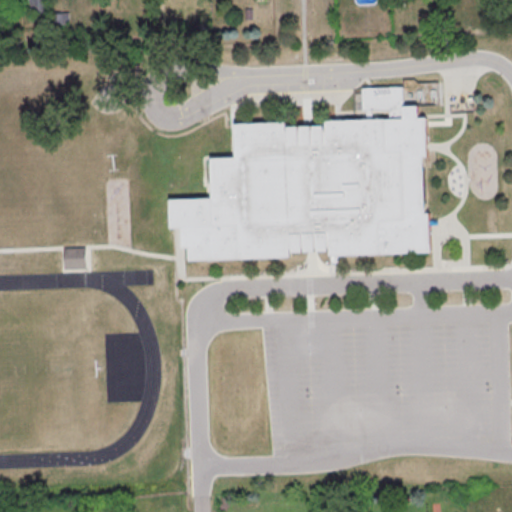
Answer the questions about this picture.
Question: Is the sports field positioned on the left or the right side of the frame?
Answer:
left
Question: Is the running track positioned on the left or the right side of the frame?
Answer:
left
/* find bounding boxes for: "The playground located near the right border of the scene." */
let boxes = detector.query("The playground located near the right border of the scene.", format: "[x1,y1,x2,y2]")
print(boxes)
[468,143,498,200]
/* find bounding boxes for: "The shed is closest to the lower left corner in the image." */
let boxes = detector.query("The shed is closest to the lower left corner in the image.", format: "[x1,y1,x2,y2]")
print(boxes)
[63,248,86,270]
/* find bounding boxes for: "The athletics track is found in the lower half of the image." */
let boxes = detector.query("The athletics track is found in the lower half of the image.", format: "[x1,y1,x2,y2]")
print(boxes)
[0,270,162,469]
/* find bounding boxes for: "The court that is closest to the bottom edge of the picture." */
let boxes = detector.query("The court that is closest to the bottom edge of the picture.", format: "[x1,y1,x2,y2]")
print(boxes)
[106,178,132,249]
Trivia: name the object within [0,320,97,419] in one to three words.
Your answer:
sports field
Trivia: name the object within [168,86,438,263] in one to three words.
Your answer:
building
